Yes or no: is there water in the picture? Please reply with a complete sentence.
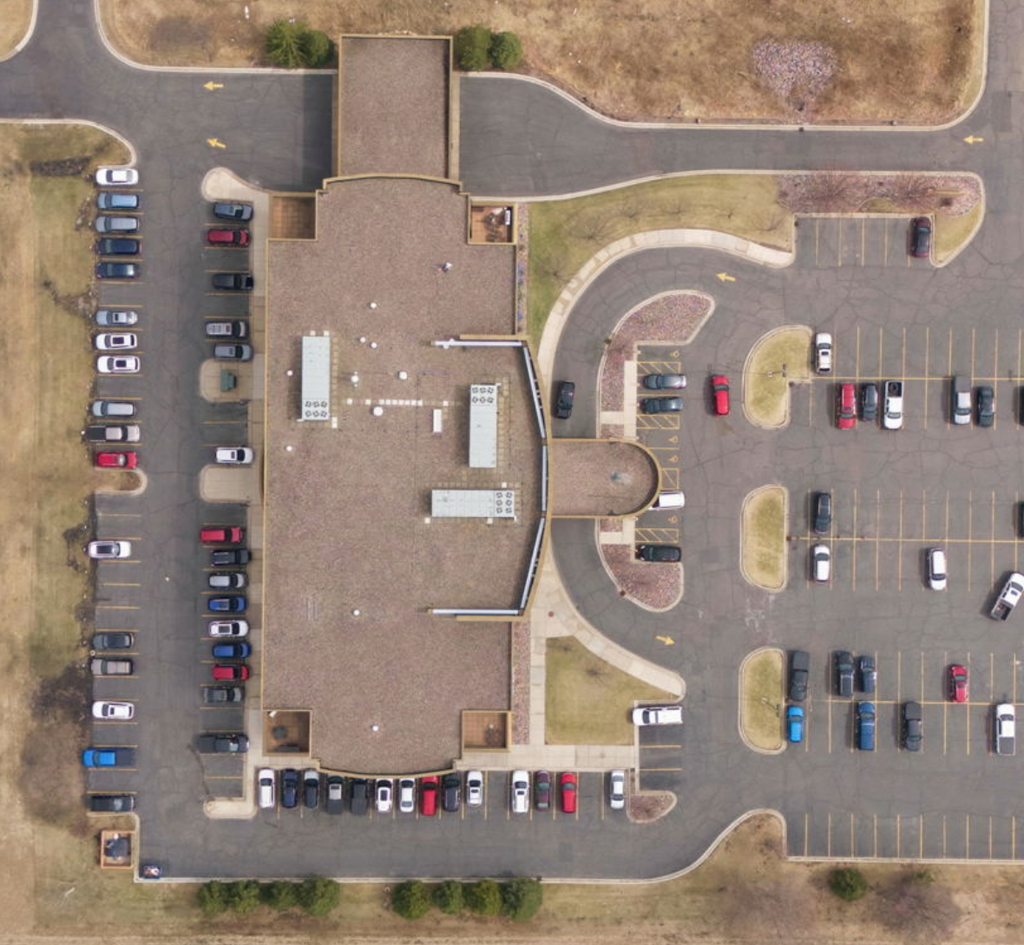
No, the picture contains no water.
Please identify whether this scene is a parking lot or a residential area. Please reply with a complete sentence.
The area seen from above is a parking lot.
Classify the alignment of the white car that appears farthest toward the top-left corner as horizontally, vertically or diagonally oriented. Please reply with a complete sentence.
What the image shows is the white car that appears farthest toward the top-left corner lying horizontally.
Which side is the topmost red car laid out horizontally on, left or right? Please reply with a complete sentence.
It is on the left.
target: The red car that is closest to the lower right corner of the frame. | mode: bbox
[947,663,968,703]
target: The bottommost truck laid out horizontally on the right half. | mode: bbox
[632,705,684,727]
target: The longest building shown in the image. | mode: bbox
[263,174,551,776]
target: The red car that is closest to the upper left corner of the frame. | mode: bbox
[207,226,250,246]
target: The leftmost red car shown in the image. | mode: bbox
[97,450,140,470]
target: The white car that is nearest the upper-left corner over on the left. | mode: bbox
[97,166,140,186]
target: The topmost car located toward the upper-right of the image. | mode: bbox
[910,217,931,258]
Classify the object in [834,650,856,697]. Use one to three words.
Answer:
car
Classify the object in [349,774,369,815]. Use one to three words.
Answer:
vehicle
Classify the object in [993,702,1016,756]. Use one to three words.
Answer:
truck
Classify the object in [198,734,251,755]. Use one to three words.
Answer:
truck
